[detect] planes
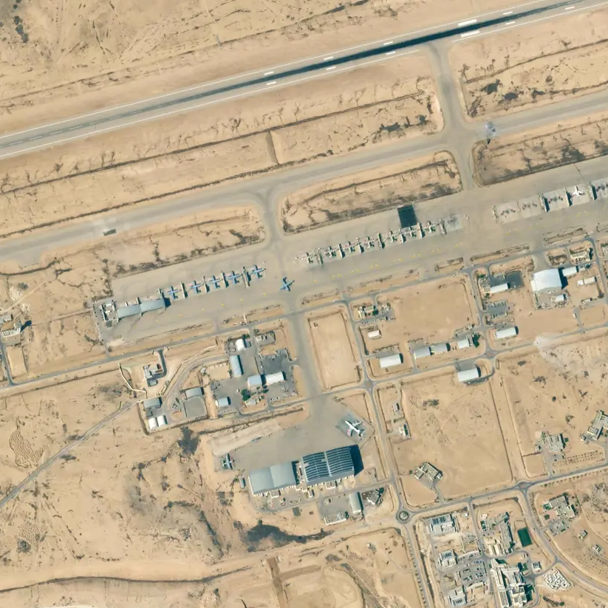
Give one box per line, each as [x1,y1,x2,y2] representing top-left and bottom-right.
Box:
[190,280,203,292]
[572,186,584,197]
[280,277,293,290]
[323,245,338,257]
[362,235,376,247]
[228,270,240,280]
[252,265,263,276]
[423,220,437,232]
[343,240,358,252]
[222,453,234,467]
[301,250,315,263]
[209,275,222,286]
[385,230,400,241]
[404,225,419,237]
[167,285,179,297]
